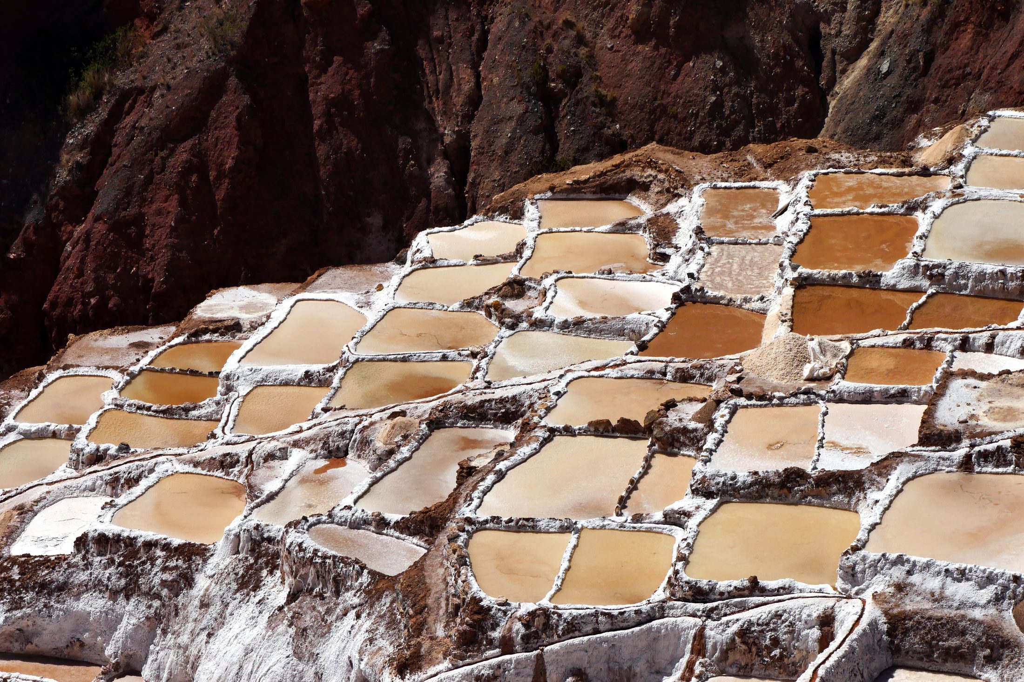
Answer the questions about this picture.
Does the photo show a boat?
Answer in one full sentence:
No, no boat is visible in the scene.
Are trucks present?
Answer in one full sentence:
No, no truck is visible in the view.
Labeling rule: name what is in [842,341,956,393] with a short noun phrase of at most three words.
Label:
pond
